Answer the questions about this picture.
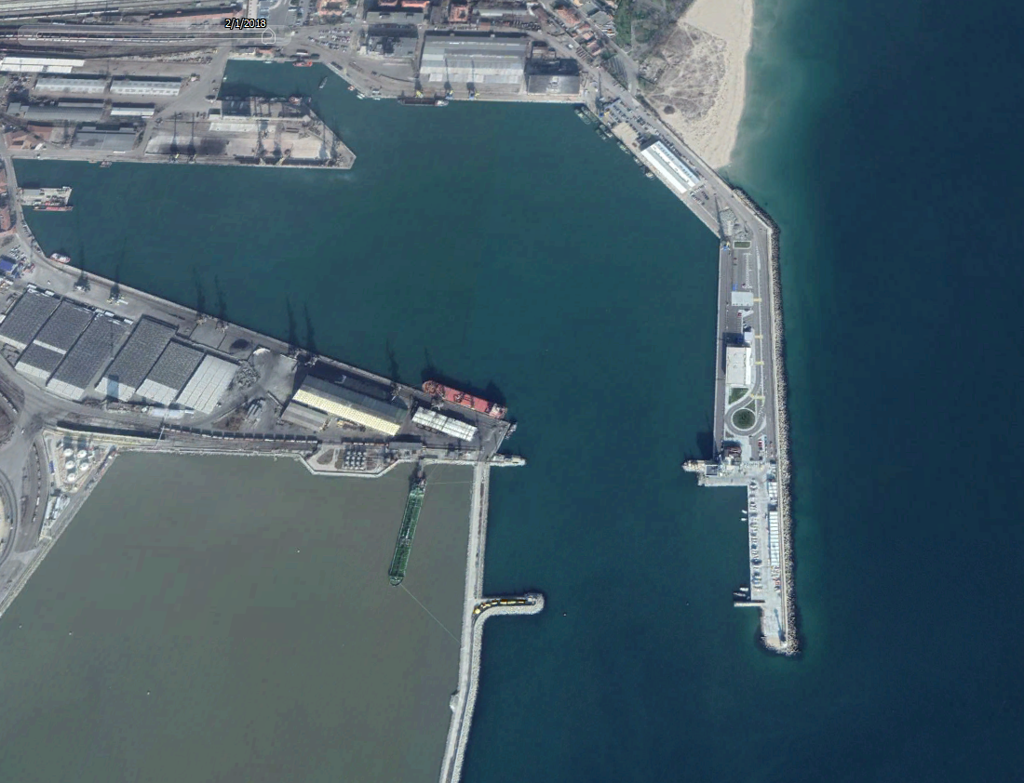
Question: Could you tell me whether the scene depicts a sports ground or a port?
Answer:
port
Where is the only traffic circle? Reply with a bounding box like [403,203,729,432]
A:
[723,367,765,440]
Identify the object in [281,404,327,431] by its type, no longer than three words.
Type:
building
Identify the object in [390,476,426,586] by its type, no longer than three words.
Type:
ship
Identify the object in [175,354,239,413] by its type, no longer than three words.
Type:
building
